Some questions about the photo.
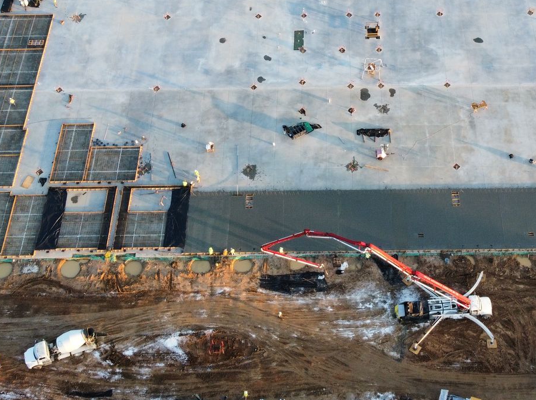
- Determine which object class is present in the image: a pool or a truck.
truck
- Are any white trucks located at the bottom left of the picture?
Yes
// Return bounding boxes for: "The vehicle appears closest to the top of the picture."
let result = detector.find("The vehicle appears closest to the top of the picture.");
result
[365,21,379,40]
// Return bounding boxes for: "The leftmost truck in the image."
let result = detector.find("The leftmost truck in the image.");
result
[21,331,101,370]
